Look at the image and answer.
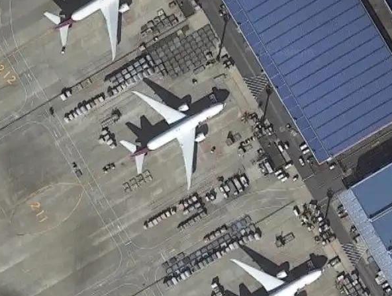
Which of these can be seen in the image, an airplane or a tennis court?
airplane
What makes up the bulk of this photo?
paved ground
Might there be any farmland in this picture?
No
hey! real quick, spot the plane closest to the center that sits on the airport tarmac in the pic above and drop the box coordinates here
[119,90,224,189]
